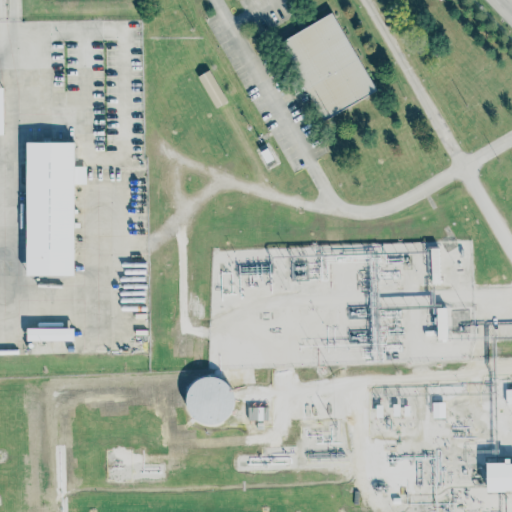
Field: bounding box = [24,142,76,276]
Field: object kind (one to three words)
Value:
building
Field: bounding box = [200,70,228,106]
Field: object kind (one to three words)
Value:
shed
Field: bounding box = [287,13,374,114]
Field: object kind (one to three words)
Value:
building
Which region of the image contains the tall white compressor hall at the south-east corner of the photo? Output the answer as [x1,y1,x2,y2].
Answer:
[478,447,512,494]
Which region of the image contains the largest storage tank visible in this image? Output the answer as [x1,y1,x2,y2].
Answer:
[186,376,245,428]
